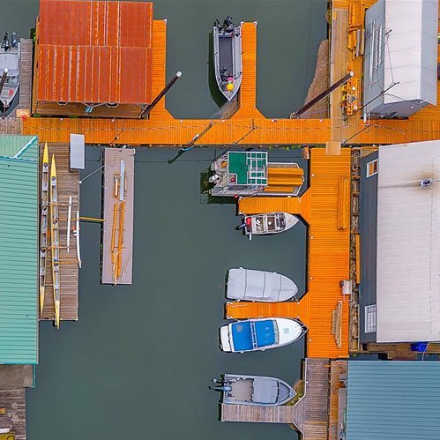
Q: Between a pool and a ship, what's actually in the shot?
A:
ship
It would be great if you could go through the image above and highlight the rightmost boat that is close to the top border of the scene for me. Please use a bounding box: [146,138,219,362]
[212,8,244,118]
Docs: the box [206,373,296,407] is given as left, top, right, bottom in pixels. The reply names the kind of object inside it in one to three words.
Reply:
boat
